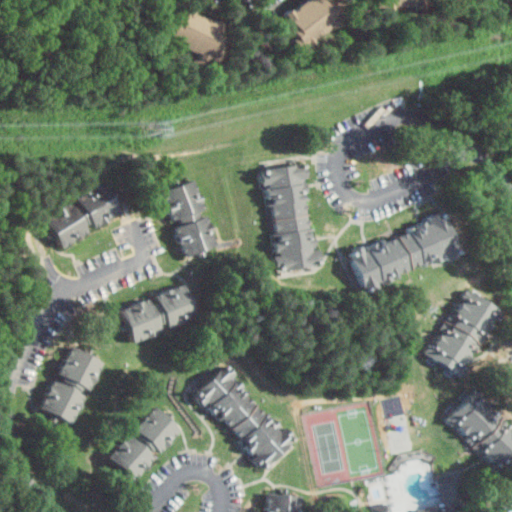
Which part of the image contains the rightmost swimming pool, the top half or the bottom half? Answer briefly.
bottom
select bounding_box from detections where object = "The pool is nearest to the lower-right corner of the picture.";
[384,460,441,512]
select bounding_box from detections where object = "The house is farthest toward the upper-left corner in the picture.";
[173,12,224,58]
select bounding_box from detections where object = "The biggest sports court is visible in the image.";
[302,402,385,487]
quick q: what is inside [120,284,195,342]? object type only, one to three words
building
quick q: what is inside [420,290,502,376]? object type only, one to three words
building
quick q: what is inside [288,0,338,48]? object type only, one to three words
house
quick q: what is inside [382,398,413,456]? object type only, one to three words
playground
